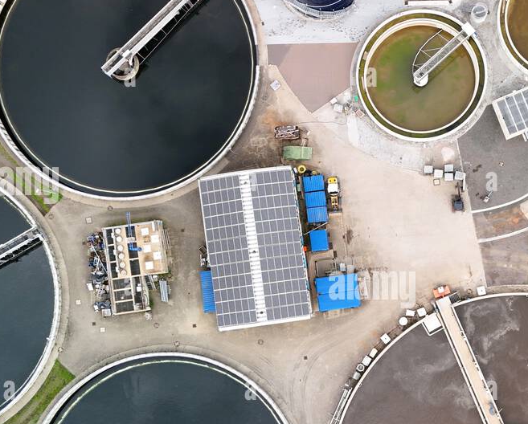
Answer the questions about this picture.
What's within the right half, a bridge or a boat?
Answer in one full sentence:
What appears within the right half is a bridge.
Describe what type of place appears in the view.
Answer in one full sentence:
This image shows an industrial area.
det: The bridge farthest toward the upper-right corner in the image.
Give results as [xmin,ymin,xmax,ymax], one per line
[412,20,483,87]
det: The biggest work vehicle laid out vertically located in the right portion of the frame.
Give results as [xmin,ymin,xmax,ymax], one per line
[326,174,340,214]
